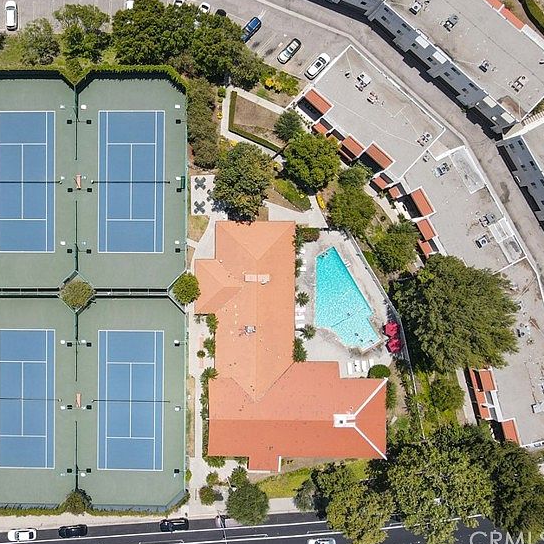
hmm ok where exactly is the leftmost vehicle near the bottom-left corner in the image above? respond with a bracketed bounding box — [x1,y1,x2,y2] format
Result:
[8,528,36,542]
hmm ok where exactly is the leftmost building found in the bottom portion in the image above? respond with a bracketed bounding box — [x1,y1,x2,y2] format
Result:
[194,221,386,474]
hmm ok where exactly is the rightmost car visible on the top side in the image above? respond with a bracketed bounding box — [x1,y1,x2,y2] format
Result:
[305,53,329,81]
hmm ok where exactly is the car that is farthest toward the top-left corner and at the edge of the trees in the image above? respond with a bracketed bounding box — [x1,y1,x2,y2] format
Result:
[4,1,17,30]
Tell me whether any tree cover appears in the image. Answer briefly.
Yes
